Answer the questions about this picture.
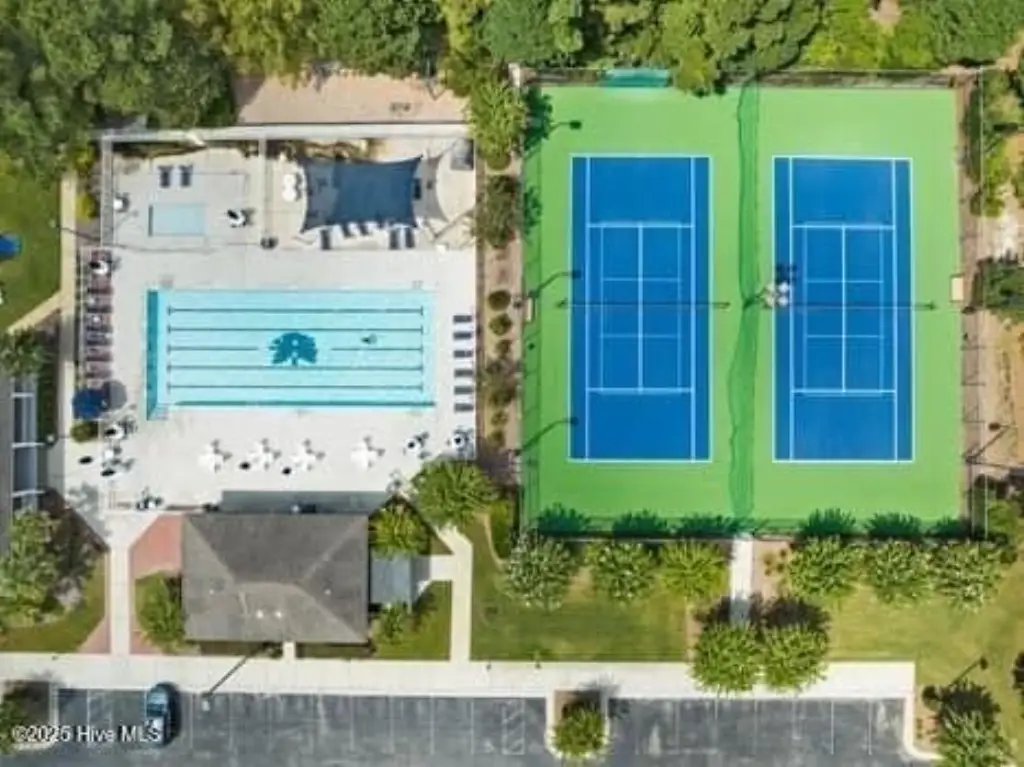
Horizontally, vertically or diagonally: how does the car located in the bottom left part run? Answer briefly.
vertically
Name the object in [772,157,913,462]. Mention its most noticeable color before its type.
blue tennis court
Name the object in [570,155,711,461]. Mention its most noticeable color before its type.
blue tennis court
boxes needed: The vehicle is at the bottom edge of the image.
[144,684,177,747]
